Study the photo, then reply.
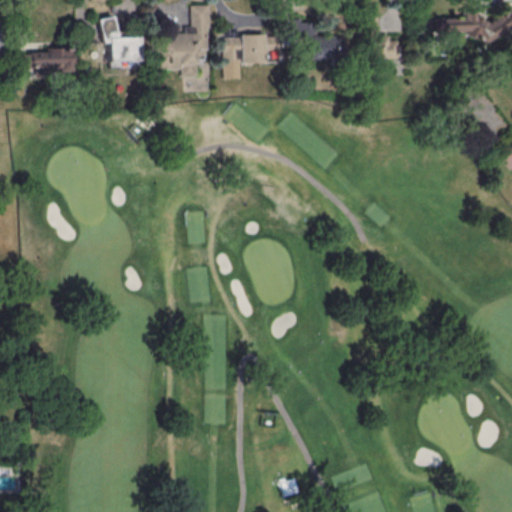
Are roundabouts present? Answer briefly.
No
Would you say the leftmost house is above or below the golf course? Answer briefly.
above it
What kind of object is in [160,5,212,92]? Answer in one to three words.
house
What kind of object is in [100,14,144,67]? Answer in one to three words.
house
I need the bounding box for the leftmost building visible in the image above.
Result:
[30,48,78,74]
